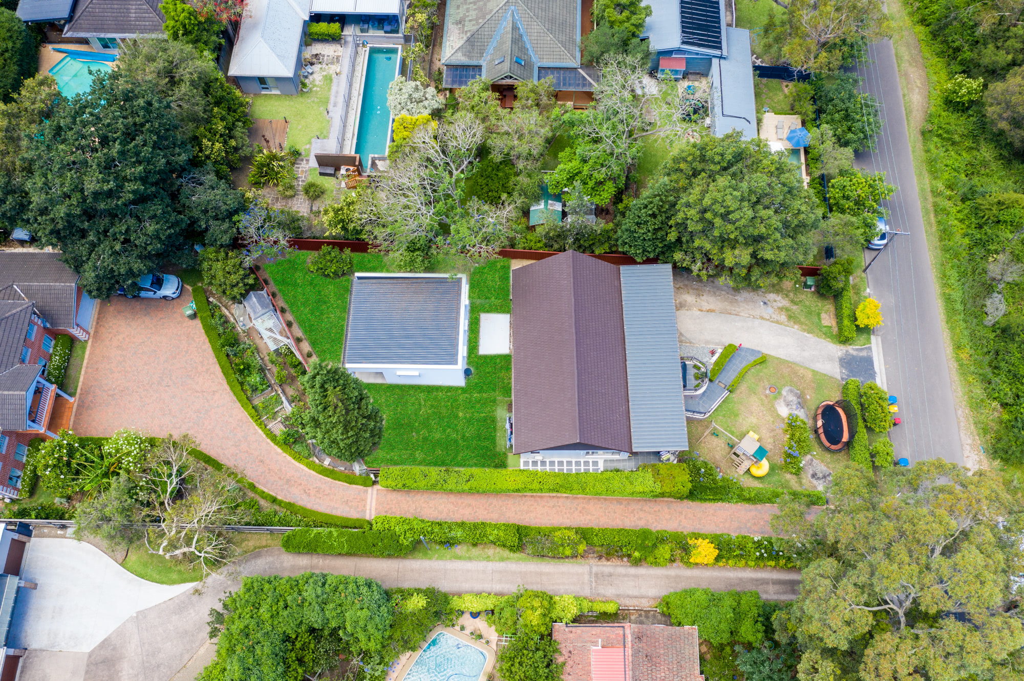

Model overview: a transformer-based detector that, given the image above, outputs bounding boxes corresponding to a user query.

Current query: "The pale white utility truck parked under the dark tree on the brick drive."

[114,269,180,297]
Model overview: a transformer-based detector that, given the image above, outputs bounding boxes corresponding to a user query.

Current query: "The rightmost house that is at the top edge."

[641,0,759,158]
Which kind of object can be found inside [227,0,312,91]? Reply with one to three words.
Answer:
house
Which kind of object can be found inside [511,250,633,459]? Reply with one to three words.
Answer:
house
